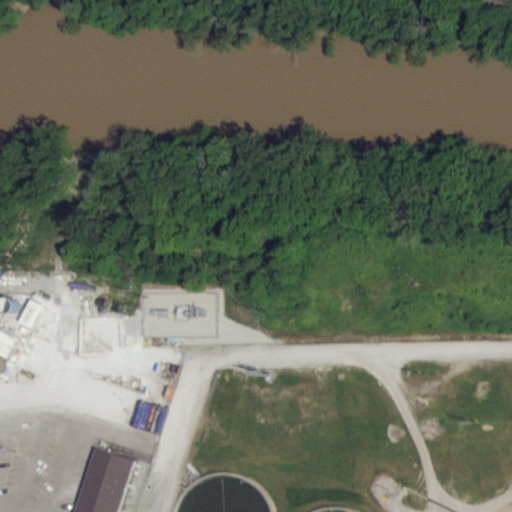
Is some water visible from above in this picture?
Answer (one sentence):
Yes, there's water in this view.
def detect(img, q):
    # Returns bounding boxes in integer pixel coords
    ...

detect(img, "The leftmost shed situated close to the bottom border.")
[78,447,137,512]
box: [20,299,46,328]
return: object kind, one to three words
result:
shed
